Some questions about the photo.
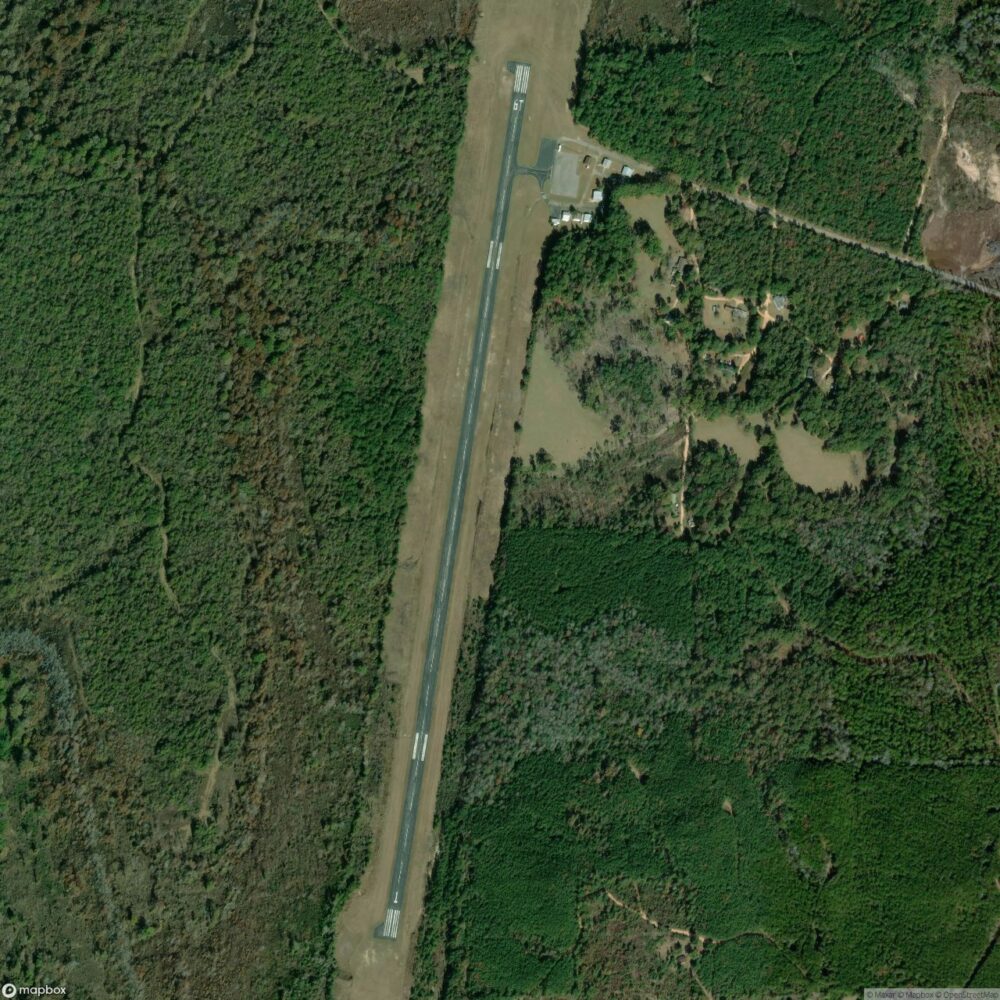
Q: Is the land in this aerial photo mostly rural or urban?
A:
rural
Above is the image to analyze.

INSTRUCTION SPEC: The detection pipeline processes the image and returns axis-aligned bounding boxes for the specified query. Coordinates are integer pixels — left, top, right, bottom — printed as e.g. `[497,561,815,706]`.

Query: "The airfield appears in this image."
[374,59,606,942]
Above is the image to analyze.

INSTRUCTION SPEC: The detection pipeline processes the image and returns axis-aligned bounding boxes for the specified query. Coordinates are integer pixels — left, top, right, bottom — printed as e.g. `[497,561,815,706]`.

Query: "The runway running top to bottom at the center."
[384,62,530,939]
